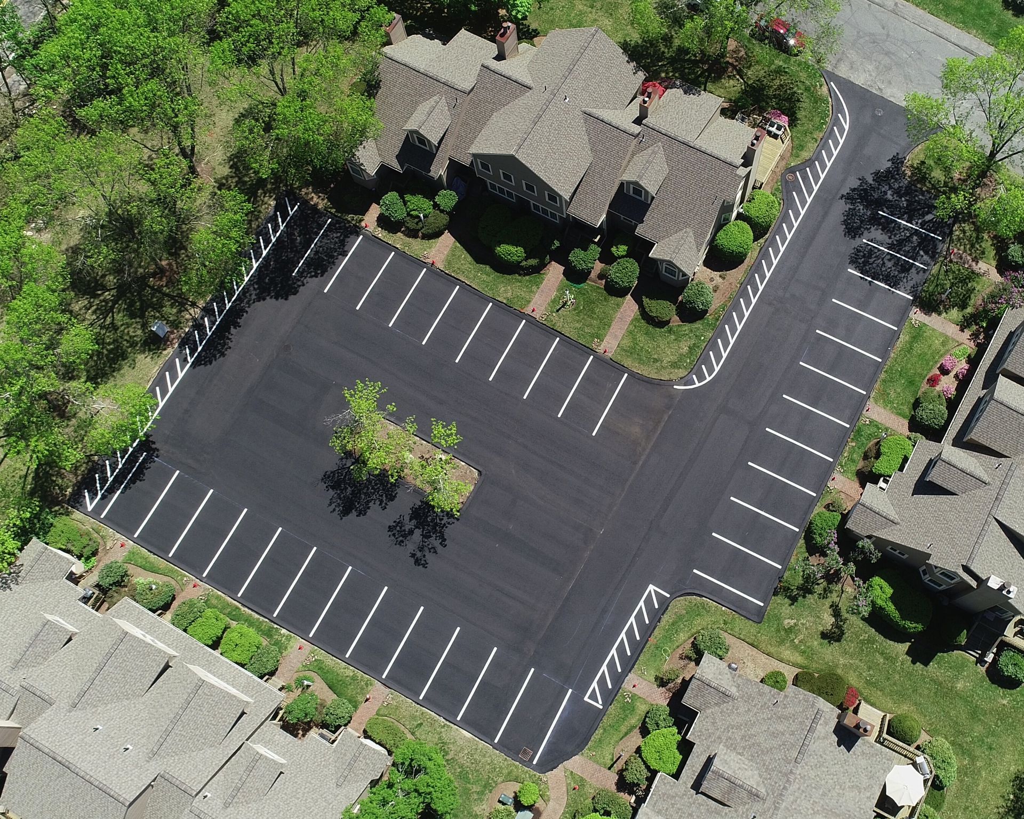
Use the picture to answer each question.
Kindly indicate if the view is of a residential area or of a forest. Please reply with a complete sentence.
The picture captures a residential area.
